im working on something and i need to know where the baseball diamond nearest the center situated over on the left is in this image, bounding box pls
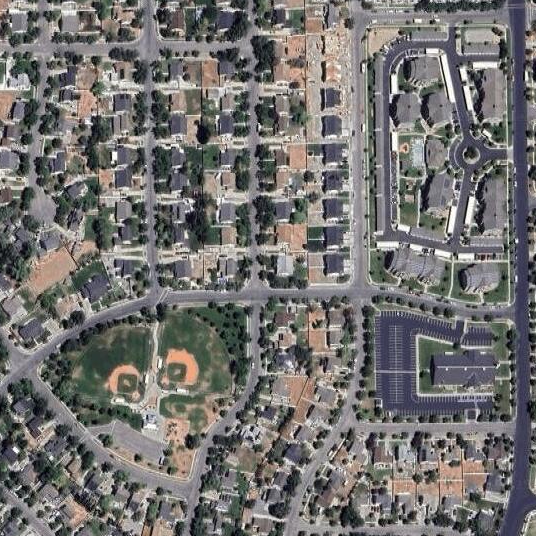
[160,317,229,390]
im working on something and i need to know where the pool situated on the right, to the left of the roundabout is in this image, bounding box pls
[412,140,425,164]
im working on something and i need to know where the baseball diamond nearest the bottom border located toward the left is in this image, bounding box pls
[161,393,204,420]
